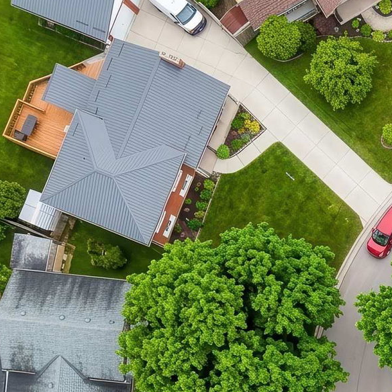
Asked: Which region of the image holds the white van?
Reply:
top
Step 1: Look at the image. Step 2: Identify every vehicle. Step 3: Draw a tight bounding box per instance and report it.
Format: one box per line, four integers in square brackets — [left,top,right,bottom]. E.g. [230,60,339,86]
[368,204,392,259]
[140,0,210,40]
